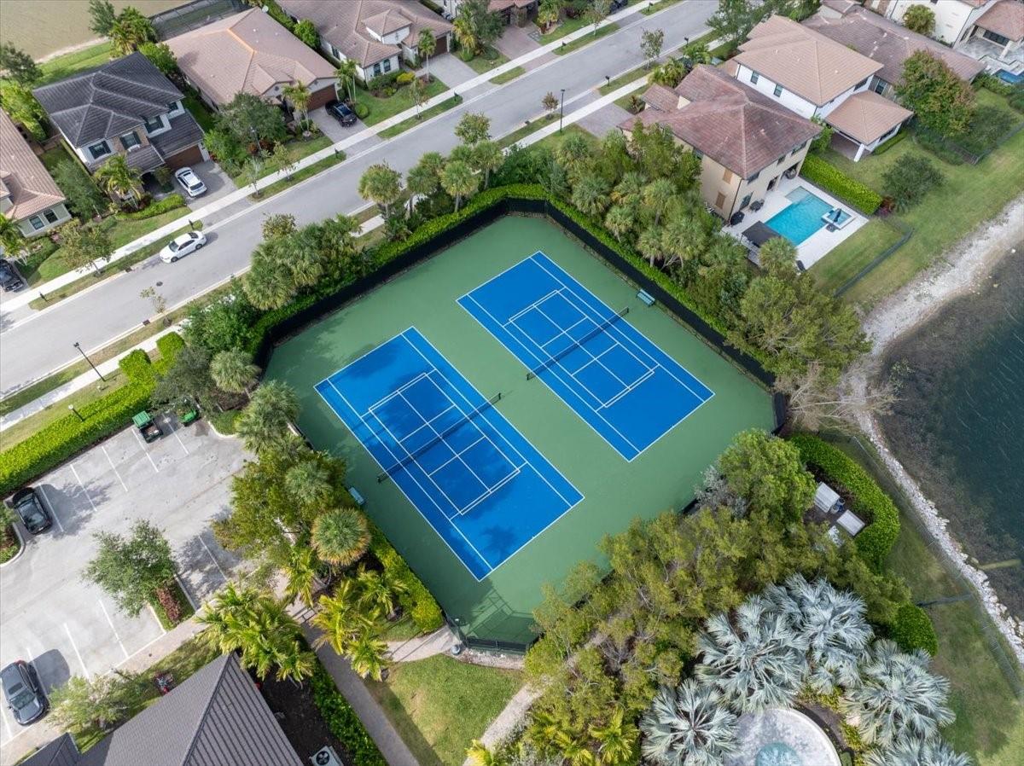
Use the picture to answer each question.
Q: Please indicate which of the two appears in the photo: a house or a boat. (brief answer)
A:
house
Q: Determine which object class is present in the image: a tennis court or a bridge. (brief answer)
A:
tennis court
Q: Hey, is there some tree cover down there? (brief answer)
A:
Yes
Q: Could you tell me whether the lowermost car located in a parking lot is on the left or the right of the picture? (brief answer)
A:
left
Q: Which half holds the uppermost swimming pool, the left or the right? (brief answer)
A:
right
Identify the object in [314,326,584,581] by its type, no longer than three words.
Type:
tennis court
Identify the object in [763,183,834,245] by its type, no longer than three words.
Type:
swimming pool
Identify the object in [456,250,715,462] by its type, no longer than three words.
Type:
tennis court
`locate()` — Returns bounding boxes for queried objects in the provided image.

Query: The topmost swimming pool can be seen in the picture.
[988,63,1024,90]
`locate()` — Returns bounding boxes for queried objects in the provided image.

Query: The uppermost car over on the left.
[323,98,355,126]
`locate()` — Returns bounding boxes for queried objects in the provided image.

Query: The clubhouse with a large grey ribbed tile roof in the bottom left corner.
[10,650,300,766]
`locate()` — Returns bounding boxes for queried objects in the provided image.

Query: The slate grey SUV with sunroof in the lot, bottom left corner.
[0,663,50,735]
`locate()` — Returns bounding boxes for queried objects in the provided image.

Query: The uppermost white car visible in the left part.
[172,168,201,195]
